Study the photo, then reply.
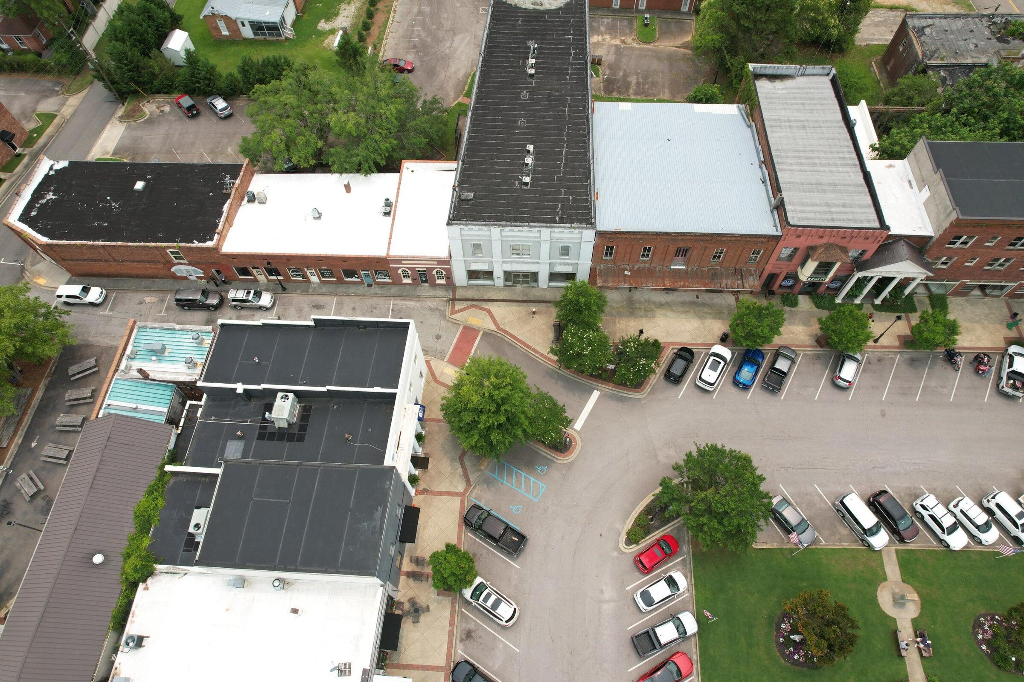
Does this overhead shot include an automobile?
Yes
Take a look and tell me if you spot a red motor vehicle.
Yes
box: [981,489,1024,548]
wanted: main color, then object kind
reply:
white car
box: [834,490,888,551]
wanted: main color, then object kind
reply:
white car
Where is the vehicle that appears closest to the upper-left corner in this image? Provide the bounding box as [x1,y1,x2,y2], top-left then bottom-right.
[173,92,202,120]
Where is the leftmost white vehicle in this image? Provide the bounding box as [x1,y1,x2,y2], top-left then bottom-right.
[54,282,108,305]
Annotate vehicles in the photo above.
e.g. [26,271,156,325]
[945,352,962,373]
[632,571,688,614]
[453,658,503,682]
[205,95,235,122]
[981,489,1024,548]
[732,346,764,393]
[462,579,519,630]
[867,486,919,545]
[770,494,815,550]
[912,493,965,552]
[632,534,682,577]
[471,508,535,562]
[1007,479,1024,511]
[378,55,418,75]
[832,349,866,393]
[759,342,798,397]
[173,92,202,120]
[834,490,888,551]
[629,609,699,662]
[226,287,276,312]
[696,344,729,394]
[663,343,696,389]
[947,494,997,549]
[997,345,1024,401]
[172,285,224,309]
[635,651,694,682]
[54,282,108,305]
